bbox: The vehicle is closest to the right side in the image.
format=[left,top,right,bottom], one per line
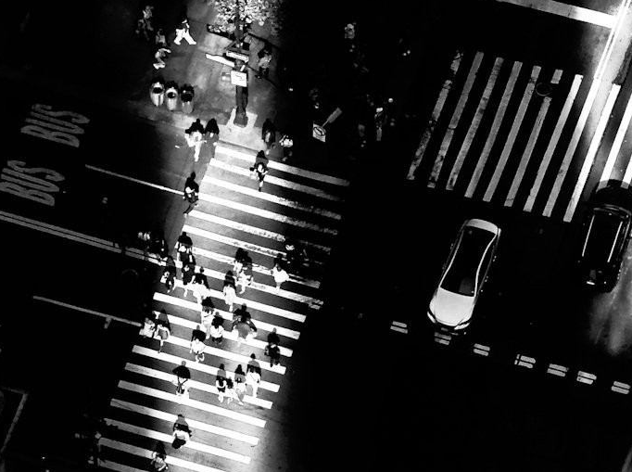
[572,190,632,296]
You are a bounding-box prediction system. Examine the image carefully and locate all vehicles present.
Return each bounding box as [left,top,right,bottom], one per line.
[572,190,632,296]
[431,220,498,331]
